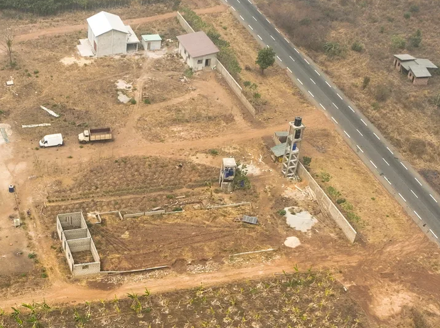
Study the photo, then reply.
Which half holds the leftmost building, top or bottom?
bottom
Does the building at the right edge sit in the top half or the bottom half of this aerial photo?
top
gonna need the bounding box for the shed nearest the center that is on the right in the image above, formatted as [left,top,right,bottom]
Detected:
[271,131,292,164]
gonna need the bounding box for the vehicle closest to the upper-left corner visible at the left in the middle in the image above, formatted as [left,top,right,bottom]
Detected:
[40,132,63,147]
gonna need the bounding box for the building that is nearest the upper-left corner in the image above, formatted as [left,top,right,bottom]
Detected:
[76,11,138,56]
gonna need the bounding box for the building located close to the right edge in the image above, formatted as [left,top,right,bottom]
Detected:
[393,54,437,87]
